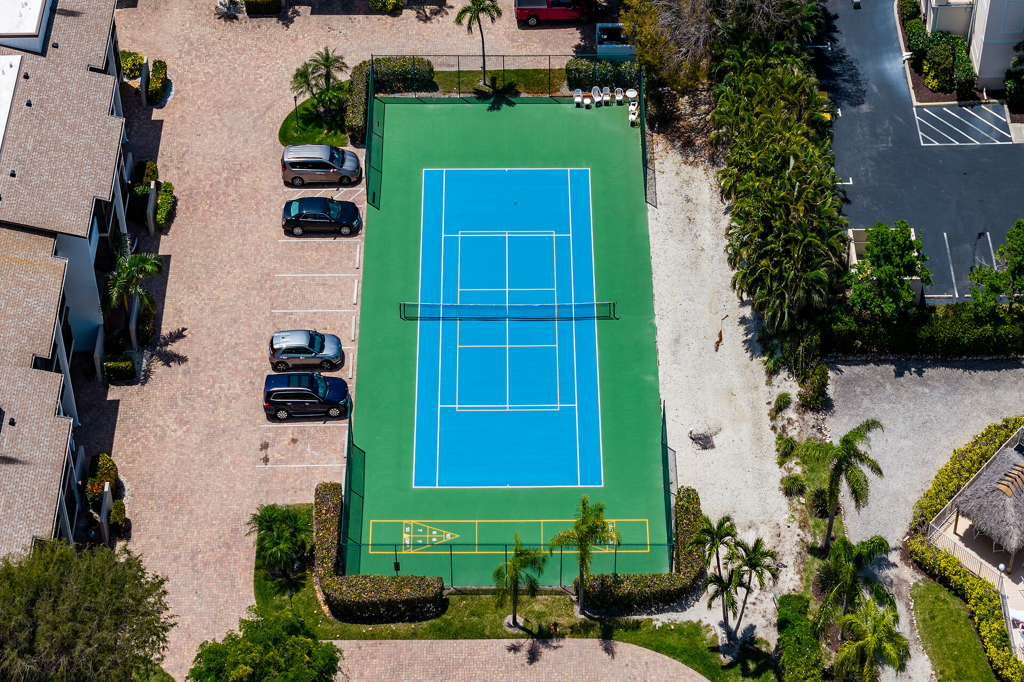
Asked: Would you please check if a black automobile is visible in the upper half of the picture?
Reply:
Yes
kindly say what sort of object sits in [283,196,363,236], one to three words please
car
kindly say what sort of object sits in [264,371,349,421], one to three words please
car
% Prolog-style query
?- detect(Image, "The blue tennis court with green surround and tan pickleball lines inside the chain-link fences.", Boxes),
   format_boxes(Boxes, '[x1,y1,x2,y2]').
[347,94,671,588]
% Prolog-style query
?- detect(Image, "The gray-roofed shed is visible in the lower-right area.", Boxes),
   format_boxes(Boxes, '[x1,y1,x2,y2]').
[949,450,1024,576]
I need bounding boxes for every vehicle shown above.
[283,196,363,236]
[264,371,349,421]
[282,141,362,187]
[514,0,597,28]
[269,327,343,372]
